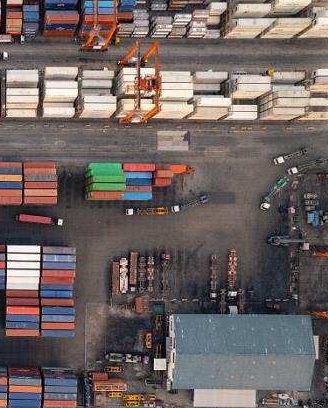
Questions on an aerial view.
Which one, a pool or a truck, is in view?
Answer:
truck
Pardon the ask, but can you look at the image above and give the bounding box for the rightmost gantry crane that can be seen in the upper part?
[120,42,162,124]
